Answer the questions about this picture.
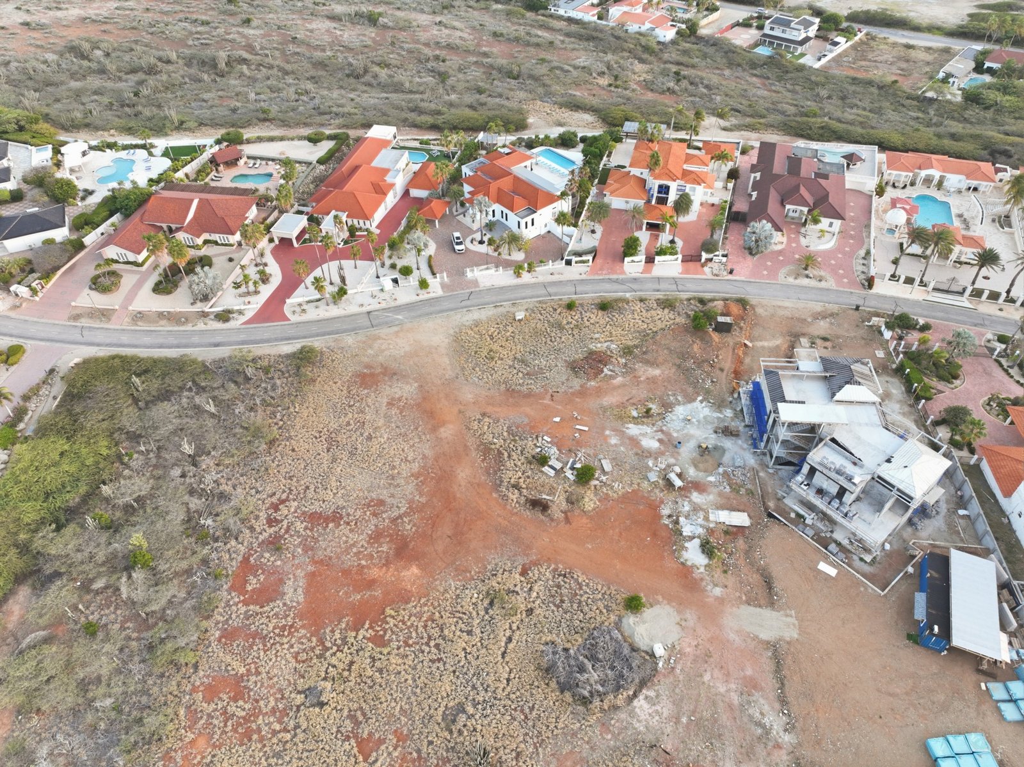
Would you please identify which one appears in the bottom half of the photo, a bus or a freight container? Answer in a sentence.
There is a freight container in the bottom half of the photo.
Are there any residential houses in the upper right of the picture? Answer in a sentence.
Yes, there is a residential house in the upper right of the picture.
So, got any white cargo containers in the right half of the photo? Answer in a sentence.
No, I see no white cargo container in the right half of the photo.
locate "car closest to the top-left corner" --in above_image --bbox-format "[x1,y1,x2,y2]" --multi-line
[451,231,465,250]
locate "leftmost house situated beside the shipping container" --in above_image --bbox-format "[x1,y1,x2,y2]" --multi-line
[753,348,954,563]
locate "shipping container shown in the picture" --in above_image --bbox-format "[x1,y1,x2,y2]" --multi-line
[913,551,951,650]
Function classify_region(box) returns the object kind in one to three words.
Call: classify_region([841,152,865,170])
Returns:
gazebo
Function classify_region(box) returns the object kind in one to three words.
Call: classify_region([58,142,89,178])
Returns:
building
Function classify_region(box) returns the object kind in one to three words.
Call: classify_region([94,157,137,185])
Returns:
swimming pool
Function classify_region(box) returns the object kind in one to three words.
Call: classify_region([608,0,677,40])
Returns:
house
